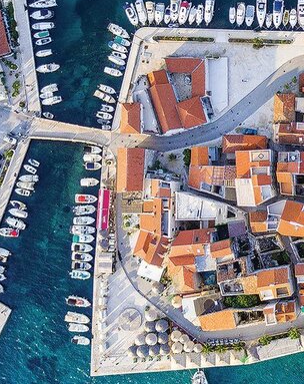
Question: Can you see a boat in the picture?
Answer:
Yes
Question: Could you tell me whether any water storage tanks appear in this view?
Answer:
No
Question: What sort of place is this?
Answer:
residential area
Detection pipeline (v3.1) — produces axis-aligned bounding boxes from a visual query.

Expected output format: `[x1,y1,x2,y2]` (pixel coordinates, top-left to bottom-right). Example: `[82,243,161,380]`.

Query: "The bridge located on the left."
[27,118,114,147]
